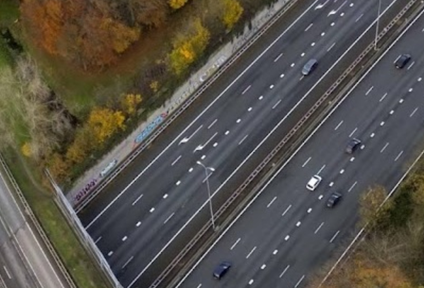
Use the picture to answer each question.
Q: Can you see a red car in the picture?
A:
No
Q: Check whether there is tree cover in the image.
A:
Yes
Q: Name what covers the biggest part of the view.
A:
paved ground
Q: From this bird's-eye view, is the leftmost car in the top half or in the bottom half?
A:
bottom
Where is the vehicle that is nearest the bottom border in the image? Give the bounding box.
[211,260,233,283]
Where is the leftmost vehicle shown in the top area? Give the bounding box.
[301,57,319,75]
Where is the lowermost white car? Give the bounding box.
[305,175,323,192]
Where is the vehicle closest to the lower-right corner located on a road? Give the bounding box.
[324,191,343,210]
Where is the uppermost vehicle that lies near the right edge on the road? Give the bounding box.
[394,55,410,70]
